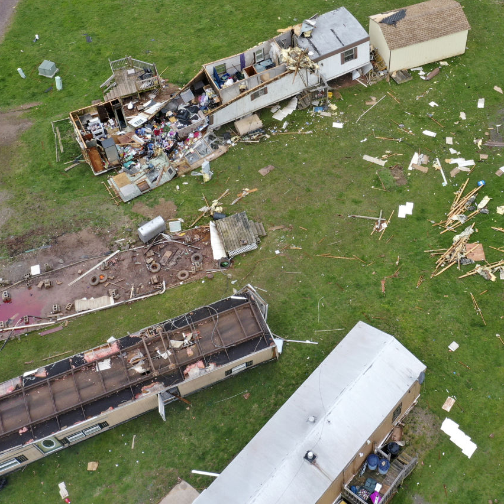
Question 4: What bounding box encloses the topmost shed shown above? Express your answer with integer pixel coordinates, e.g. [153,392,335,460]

[373,0,470,72]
